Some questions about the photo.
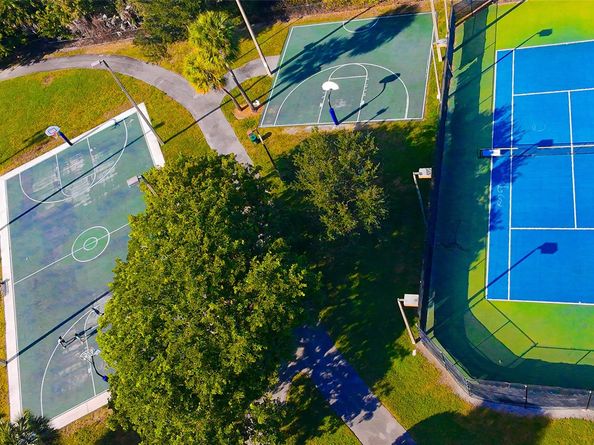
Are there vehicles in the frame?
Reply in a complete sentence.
No, there appears to be no vehicle in this shot.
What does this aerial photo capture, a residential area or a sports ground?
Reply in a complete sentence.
This looks like a sports ground.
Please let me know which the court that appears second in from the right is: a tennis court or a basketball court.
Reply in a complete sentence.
It looks like the court that appears second in from the right is a basketball court.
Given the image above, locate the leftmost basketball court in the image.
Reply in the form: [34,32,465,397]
[0,103,207,445]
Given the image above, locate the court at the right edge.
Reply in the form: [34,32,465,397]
[421,0,594,421]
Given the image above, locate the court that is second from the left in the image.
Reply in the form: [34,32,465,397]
[261,9,432,127]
